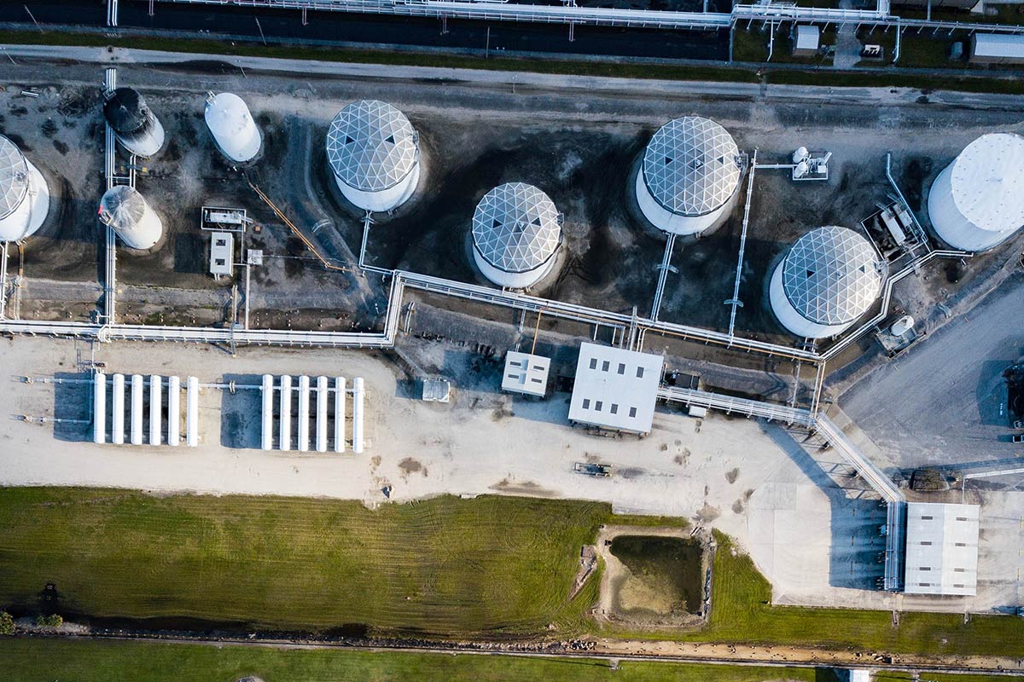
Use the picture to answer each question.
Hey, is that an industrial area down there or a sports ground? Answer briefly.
industrial area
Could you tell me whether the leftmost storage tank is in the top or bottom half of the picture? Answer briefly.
top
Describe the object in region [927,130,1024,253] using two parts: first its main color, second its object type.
white storage tank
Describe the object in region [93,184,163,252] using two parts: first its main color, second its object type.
white storage tank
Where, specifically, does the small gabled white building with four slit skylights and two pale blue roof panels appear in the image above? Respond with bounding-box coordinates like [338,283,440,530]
[502,351,551,400]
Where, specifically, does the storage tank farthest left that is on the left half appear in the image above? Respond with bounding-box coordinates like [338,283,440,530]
[0,136,51,241]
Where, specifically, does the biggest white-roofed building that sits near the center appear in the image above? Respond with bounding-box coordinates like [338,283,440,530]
[569,342,664,438]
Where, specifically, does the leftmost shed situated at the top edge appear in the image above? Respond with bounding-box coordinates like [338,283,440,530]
[793,24,820,55]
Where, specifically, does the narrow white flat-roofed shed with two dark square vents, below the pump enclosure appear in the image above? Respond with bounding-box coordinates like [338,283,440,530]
[210,232,236,281]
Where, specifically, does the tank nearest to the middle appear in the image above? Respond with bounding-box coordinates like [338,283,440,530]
[472,181,567,288]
